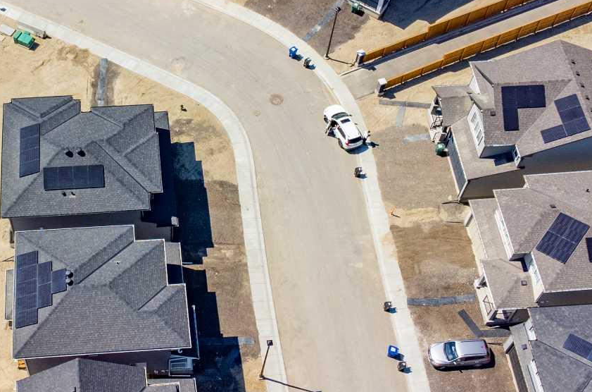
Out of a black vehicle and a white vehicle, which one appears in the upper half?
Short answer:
white vehicle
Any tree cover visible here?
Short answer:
No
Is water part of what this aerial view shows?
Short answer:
No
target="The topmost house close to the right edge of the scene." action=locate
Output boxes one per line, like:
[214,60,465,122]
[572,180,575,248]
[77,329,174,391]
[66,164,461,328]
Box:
[416,40,592,203]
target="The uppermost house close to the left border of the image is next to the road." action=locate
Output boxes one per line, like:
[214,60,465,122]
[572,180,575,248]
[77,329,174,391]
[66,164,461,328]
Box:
[0,95,178,243]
